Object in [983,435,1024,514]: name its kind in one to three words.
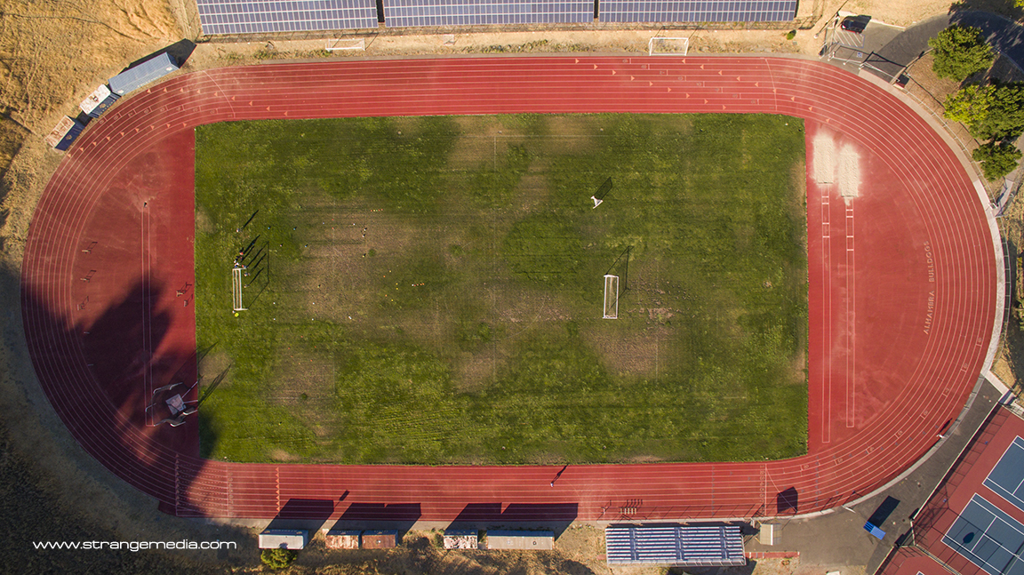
tennis court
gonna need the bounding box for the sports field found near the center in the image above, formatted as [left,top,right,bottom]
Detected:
[194,112,809,466]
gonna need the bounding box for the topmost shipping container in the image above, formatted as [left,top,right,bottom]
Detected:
[107,51,180,97]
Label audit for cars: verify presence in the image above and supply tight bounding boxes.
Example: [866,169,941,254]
[842,18,869,33]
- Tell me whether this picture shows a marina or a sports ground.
sports ground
